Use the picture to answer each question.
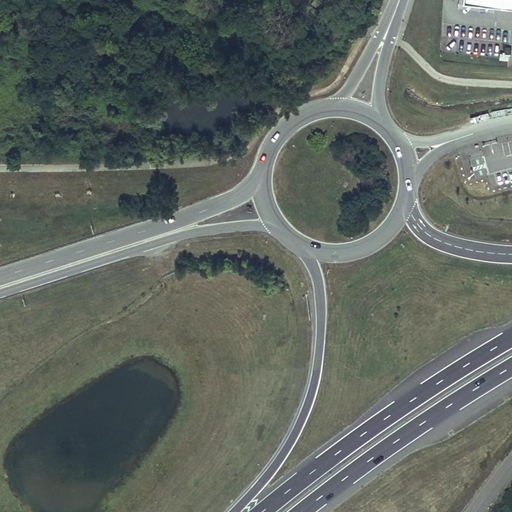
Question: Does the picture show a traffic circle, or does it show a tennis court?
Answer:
traffic circle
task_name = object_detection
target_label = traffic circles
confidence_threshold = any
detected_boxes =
[199,50,428,264]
